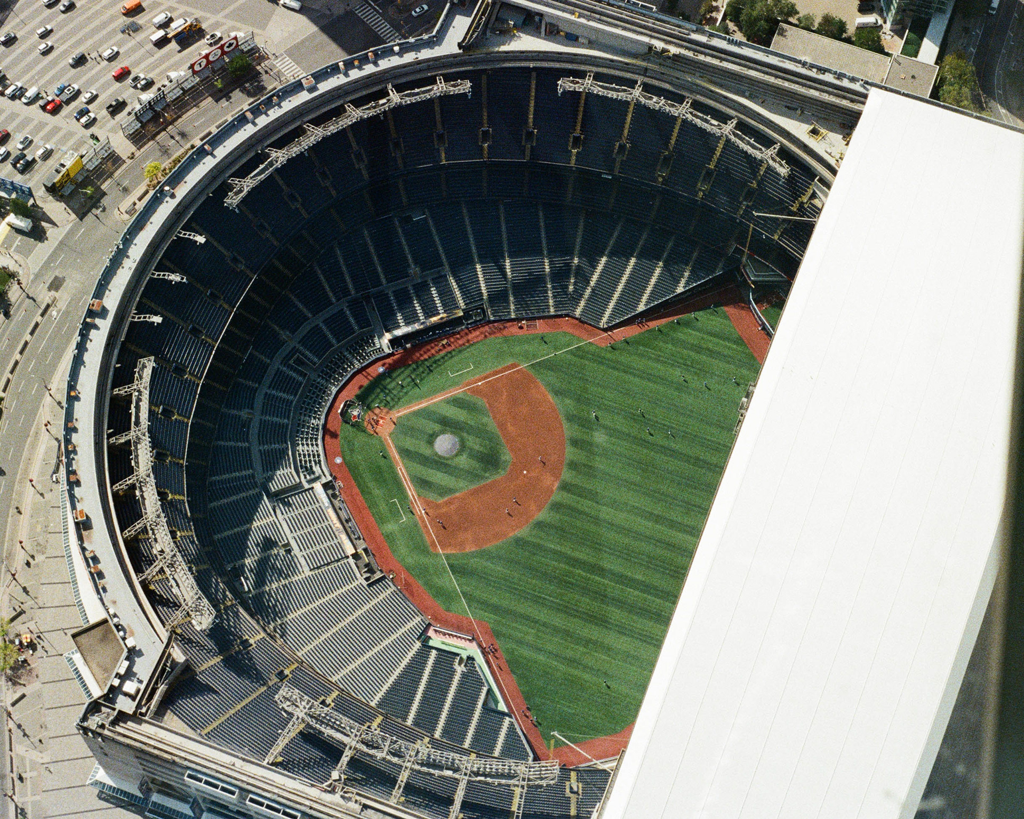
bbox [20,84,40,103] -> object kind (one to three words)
vehicle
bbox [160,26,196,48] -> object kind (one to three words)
truck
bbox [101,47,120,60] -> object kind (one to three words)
vehicle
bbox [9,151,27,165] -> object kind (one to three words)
car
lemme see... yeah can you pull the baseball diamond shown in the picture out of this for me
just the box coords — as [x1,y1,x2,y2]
[323,269,769,767]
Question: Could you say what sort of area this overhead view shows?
sports ground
